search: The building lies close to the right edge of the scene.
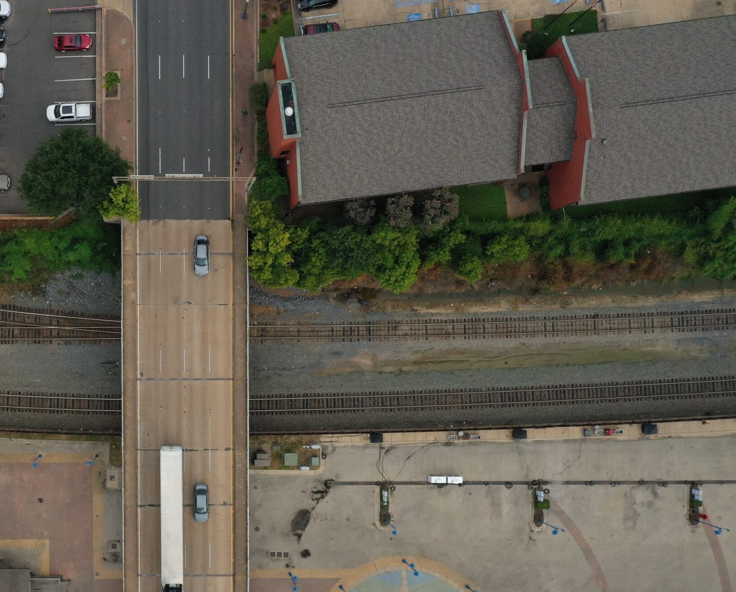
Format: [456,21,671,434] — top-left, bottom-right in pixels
[544,15,736,211]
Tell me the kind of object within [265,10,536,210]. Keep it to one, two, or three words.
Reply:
building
